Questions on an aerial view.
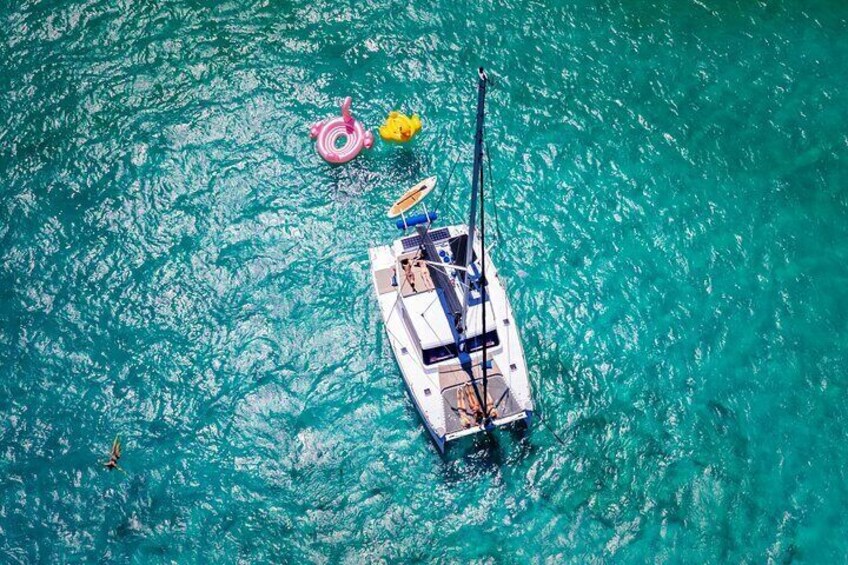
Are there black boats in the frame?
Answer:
No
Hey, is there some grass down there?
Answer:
No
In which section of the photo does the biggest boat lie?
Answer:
center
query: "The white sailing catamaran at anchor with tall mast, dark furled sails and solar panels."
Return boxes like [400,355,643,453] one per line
[368,43,556,454]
